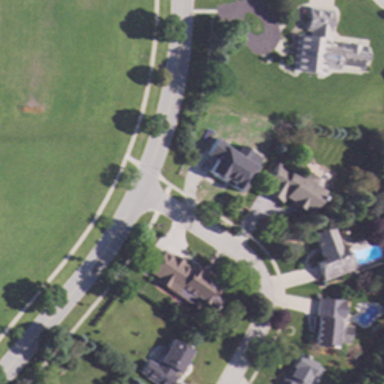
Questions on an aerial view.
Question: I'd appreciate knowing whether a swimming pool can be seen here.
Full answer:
Yes, a swimming pool can be made out from above.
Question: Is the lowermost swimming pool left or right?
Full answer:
The lowermost swimming pool appears in the right half of the scene.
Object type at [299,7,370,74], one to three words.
house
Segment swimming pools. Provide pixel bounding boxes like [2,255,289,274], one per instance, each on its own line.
[354,302,384,328]
[355,244,382,265]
